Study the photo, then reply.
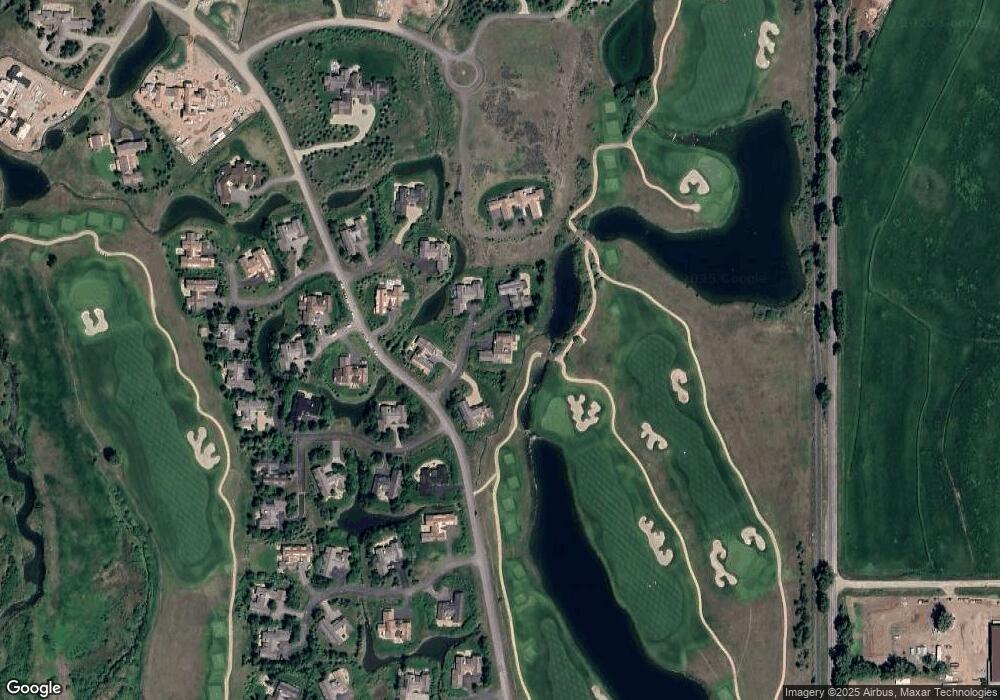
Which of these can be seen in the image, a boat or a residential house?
residential house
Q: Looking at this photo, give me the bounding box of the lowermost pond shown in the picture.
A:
[363,612,477,700]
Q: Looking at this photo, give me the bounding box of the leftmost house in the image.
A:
[0,63,32,139]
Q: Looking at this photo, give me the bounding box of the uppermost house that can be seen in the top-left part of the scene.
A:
[27,1,92,37]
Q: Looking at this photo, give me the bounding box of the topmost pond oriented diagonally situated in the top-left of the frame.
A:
[108,8,172,99]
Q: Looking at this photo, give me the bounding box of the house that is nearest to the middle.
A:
[479,332,521,365]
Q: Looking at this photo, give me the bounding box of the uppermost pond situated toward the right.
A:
[603,0,656,86]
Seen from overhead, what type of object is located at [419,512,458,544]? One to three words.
house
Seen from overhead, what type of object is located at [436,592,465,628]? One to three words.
house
